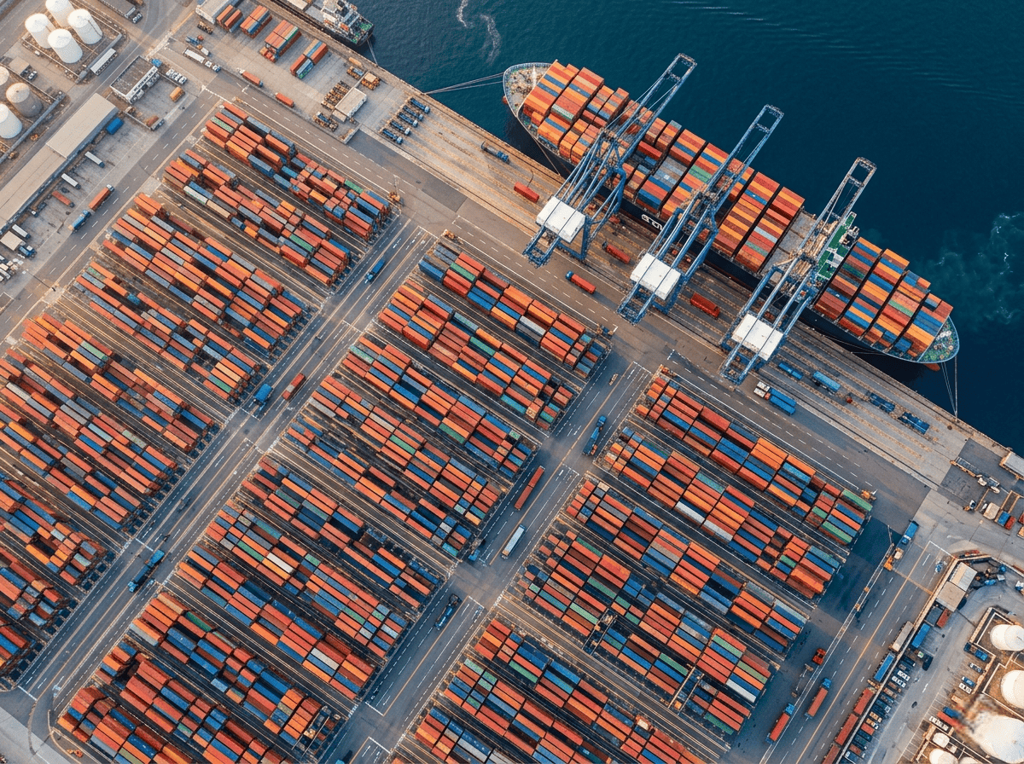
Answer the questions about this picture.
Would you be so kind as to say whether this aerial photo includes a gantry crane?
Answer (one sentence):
Yes, there's a gantry crane down there.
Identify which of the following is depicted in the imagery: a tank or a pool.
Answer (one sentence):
Of the two, only a tank appears.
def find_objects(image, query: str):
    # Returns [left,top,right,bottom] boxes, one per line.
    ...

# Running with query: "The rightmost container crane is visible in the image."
[713,151,883,396]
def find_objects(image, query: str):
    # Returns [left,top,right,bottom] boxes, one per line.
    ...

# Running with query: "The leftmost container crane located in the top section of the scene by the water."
[517,50,698,272]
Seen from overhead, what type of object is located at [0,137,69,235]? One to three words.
building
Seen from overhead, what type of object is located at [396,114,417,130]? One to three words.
vehicle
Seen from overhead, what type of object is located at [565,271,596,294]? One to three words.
truck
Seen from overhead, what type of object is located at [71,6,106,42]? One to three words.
storage tank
